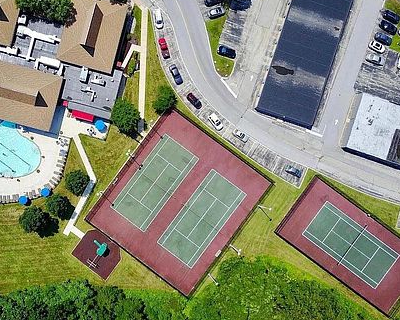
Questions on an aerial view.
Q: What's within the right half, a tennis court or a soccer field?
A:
tennis court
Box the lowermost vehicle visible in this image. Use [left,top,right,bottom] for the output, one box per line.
[283,164,302,177]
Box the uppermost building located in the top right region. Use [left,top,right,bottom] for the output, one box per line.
[252,0,357,130]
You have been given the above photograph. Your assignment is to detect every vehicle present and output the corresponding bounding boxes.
[372,34,392,46]
[204,0,223,7]
[206,114,223,131]
[217,47,236,58]
[231,129,249,145]
[363,53,382,64]
[381,11,400,24]
[283,164,302,177]
[377,21,397,34]
[186,92,201,110]
[206,7,226,19]
[152,9,164,30]
[158,38,169,60]
[169,65,181,84]
[367,43,385,54]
